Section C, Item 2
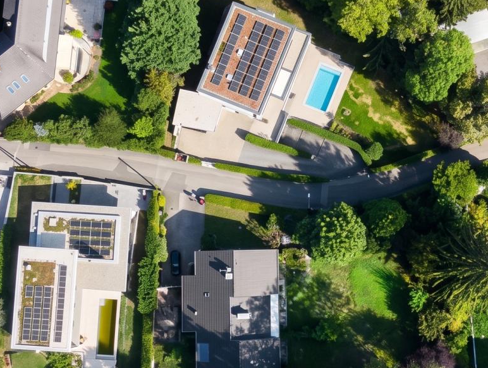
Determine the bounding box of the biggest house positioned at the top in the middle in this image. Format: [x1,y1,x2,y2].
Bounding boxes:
[197,2,312,124]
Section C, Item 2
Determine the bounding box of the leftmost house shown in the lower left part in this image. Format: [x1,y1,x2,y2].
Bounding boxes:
[11,201,137,351]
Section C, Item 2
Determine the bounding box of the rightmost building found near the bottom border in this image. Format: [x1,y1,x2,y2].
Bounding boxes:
[181,248,287,368]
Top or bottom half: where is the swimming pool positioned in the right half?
top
